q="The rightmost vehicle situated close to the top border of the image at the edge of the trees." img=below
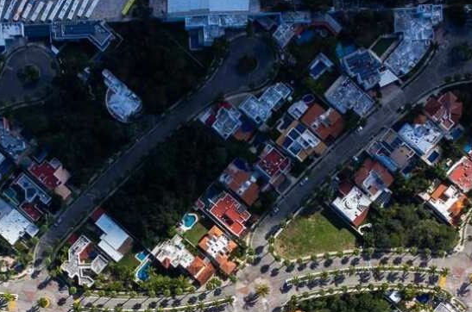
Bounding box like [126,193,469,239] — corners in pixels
[121,0,135,16]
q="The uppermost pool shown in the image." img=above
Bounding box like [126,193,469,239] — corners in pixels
[296,29,313,44]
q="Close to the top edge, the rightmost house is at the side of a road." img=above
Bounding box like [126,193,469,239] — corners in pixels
[379,4,443,87]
